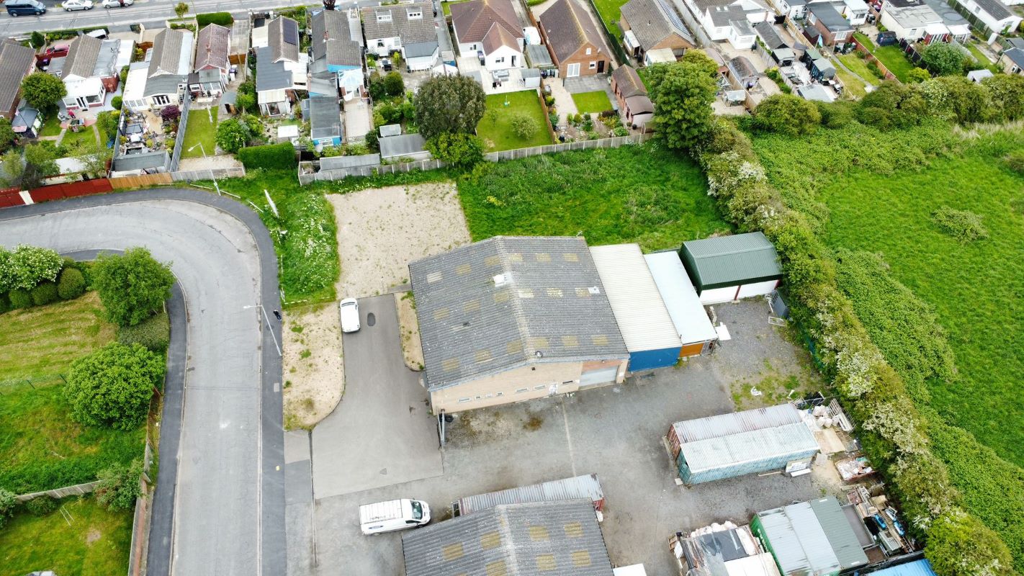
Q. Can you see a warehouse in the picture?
Yes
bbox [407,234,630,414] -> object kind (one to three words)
warehouse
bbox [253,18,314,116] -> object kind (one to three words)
house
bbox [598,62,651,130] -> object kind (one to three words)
building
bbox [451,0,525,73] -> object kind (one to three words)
house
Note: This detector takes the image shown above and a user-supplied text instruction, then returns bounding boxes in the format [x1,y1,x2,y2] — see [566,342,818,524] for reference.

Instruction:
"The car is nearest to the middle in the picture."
[339,299,361,335]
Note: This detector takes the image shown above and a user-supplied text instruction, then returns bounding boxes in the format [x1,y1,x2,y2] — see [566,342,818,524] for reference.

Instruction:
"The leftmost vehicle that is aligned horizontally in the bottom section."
[359,496,429,535]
